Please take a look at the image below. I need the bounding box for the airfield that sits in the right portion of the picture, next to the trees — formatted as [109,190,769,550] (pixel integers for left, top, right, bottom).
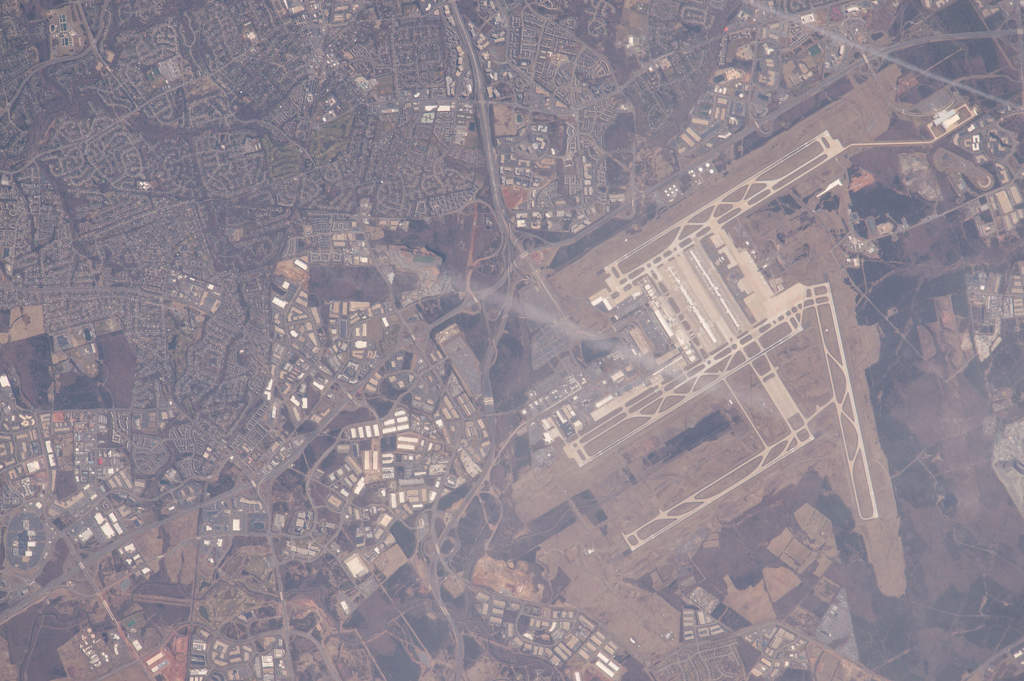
[544,129,937,556]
